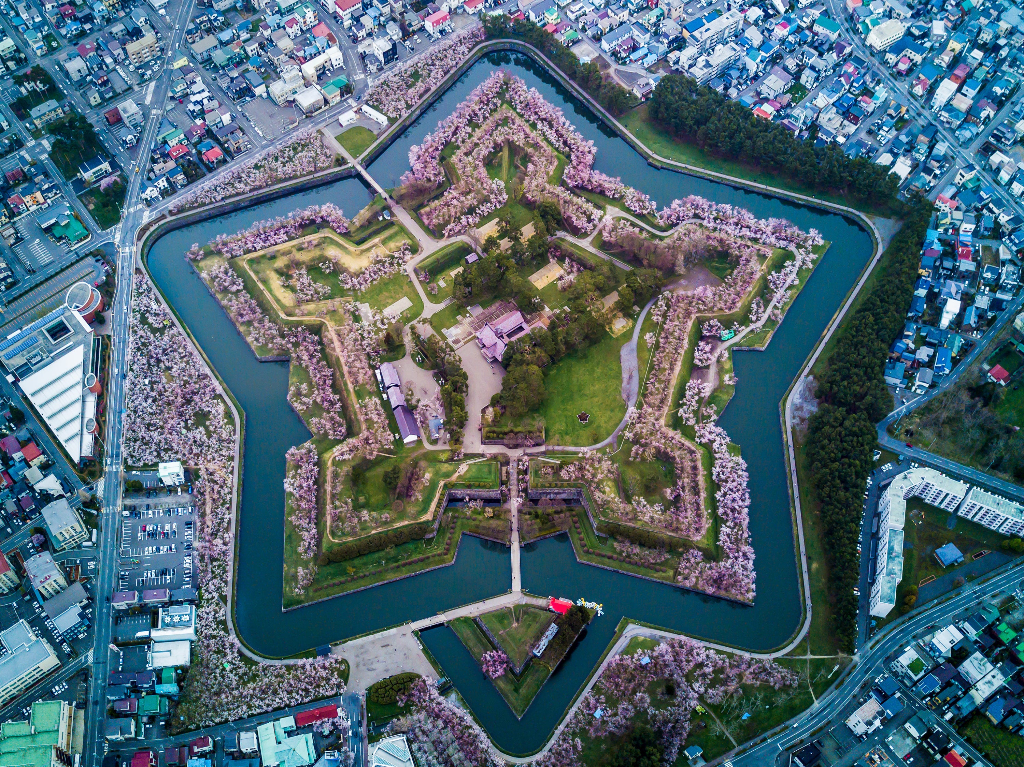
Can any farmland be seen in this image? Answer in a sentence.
No, there's no farmland in this view.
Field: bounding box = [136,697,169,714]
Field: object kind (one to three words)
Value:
house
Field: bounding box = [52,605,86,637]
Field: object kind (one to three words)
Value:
building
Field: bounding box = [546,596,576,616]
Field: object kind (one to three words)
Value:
building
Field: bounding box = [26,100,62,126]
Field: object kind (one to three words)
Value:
house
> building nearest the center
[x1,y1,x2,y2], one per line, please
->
[470,307,543,371]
